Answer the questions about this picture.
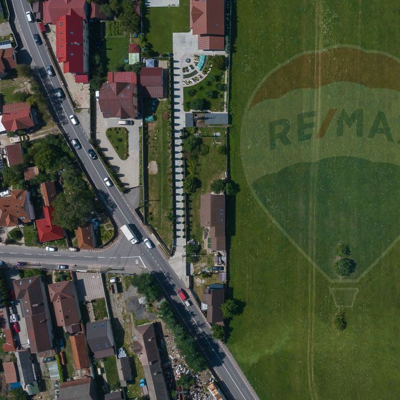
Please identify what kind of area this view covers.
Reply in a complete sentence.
The area seen from above is a residential area.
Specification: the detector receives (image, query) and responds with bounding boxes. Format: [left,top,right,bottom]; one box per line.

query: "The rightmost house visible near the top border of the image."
[190,0,226,50]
